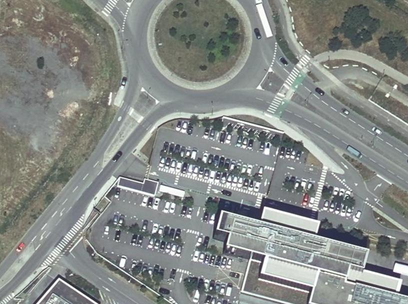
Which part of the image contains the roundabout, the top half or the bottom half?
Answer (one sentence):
You can find the roundabout in the top half.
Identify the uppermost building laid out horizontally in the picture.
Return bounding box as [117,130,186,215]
[118,178,158,196]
